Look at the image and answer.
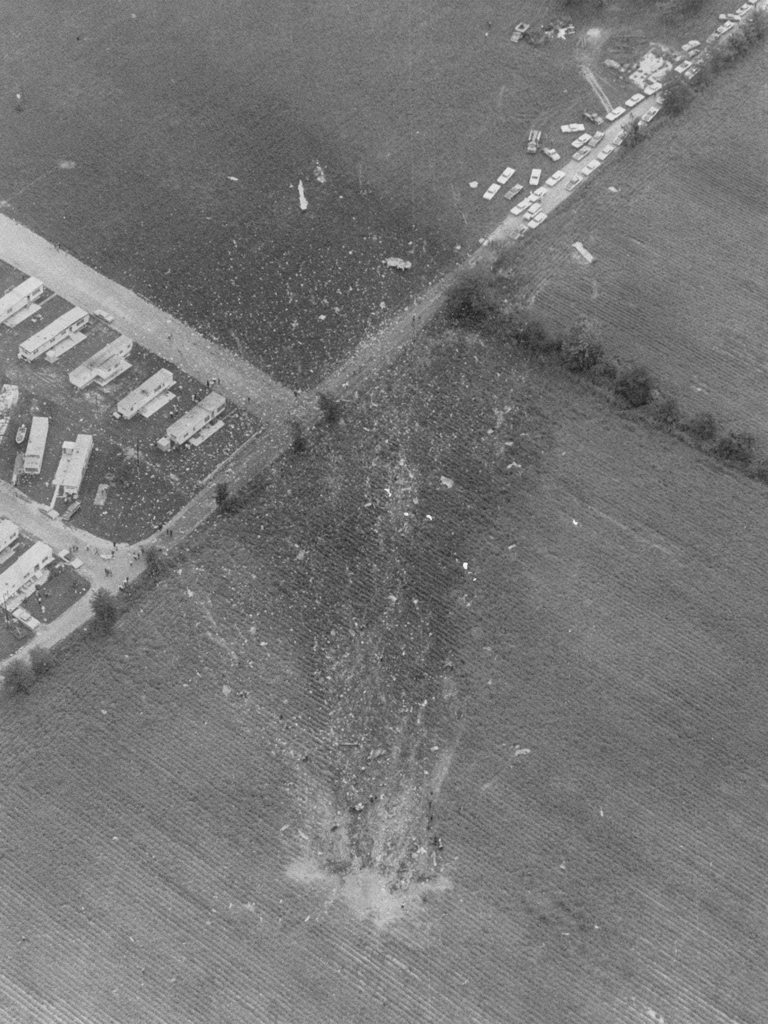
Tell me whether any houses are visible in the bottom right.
No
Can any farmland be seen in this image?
Yes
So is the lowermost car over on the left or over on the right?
left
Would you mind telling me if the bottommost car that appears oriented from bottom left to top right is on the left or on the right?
left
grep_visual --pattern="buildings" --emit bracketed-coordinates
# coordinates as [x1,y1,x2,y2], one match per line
[0,540,54,606]
[0,276,45,322]
[22,417,49,480]
[0,519,20,553]
[53,434,94,500]
[599,30,697,96]
[115,366,174,421]
[0,385,25,435]
[20,306,89,361]
[70,334,133,388]
[167,391,227,445]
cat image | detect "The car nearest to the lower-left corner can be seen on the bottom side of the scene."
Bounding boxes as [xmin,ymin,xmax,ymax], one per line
[11,607,41,628]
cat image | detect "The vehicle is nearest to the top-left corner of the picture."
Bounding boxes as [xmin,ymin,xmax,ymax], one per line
[91,308,116,324]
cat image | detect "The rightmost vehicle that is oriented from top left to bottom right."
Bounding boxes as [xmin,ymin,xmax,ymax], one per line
[583,108,606,126]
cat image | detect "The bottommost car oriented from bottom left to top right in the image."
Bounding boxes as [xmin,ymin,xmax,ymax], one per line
[60,499,83,523]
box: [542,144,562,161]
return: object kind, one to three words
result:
vehicle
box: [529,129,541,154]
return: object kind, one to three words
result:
vehicle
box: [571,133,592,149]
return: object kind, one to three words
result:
car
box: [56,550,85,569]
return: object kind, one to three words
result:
car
